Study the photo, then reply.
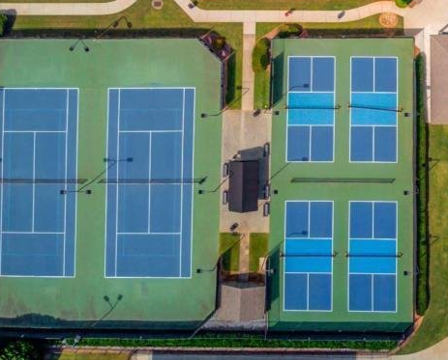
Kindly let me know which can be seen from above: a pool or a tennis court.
tennis court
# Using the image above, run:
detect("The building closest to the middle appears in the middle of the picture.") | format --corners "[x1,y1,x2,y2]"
[229,161,259,214]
